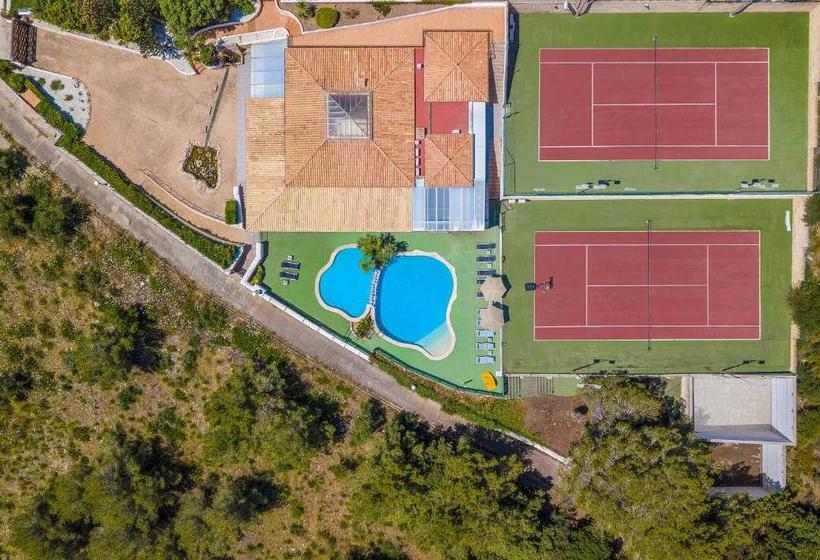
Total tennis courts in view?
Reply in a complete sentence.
There are 2 tennis courts in the image.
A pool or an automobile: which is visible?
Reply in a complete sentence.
Looking from above, you can make out a pool.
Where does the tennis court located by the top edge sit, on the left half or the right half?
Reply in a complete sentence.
The tennis court located by the top edge sits on the right side.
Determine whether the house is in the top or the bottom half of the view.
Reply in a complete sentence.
The house sits in the top half of the picture.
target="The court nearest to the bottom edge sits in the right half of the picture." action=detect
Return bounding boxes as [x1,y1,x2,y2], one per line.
[504,199,793,374]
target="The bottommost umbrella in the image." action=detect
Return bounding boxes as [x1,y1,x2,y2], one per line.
[479,304,504,332]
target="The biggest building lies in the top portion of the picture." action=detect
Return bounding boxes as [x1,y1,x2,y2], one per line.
[245,29,491,232]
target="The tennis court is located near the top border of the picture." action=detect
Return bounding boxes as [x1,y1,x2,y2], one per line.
[502,13,809,195]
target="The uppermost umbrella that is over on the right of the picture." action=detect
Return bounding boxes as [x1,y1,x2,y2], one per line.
[479,276,507,302]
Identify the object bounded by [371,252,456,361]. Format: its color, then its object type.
blue swimming pool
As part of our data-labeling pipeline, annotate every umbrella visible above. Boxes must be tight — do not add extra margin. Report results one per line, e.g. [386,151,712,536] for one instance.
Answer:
[479,304,504,332]
[479,276,507,302]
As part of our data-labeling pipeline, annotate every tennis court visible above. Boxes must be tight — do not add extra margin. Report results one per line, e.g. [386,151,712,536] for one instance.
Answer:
[504,199,793,374]
[502,13,809,195]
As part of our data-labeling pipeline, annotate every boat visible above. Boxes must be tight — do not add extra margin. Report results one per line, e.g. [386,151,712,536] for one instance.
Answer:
[482,372,496,390]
